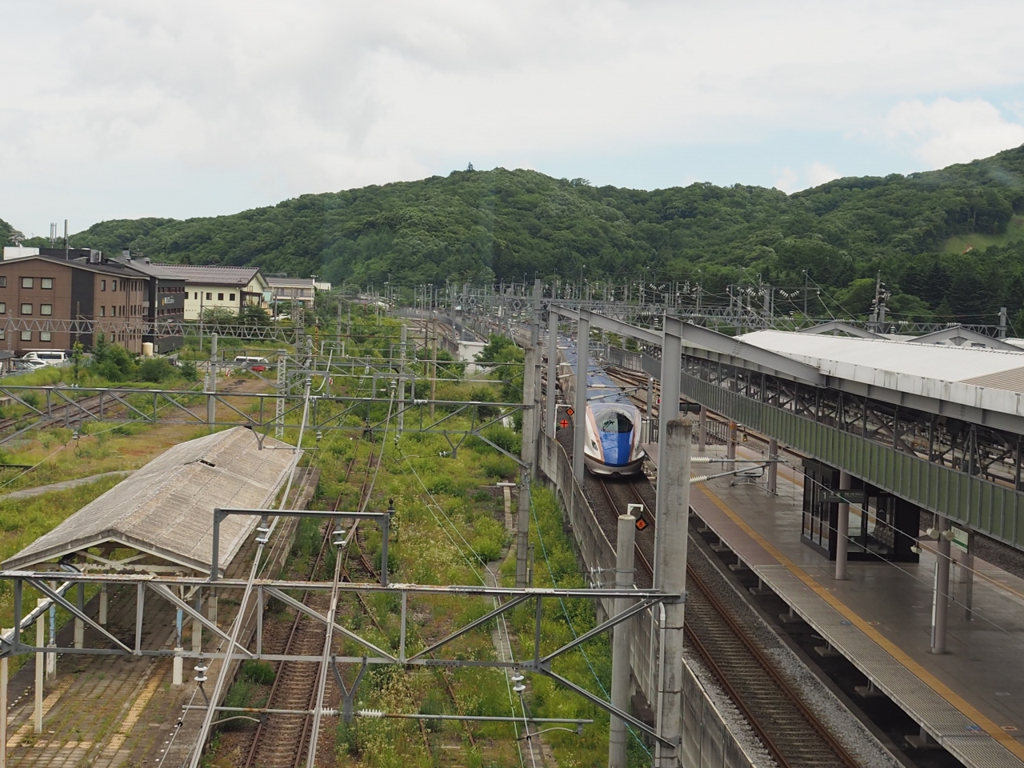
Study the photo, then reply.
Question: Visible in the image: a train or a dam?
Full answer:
This aerial view contains a train.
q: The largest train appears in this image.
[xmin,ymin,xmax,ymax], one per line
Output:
[534,332,642,482]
